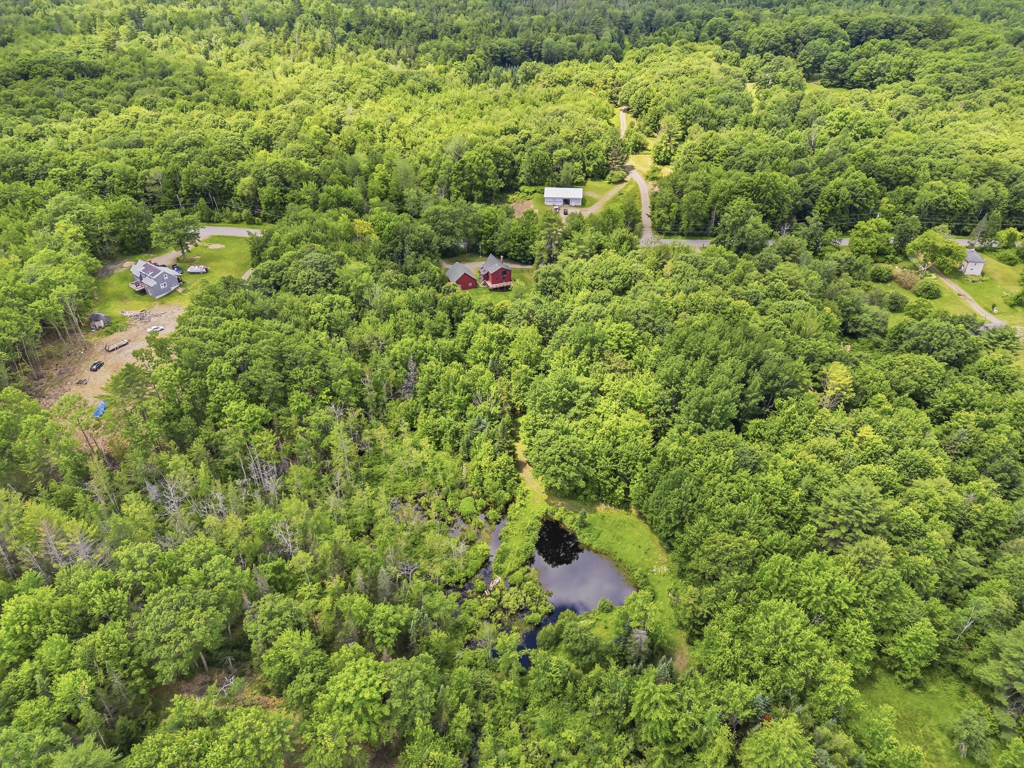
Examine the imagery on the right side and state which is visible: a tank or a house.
house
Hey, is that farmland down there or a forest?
forest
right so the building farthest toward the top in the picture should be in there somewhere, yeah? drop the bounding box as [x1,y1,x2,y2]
[544,187,583,205]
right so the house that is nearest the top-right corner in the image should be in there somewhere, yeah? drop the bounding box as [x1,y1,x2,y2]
[952,249,988,275]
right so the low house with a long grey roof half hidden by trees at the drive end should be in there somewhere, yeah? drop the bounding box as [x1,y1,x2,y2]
[983,316,1021,334]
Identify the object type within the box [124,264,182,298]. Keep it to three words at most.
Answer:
house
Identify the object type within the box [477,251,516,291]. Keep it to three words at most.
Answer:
house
